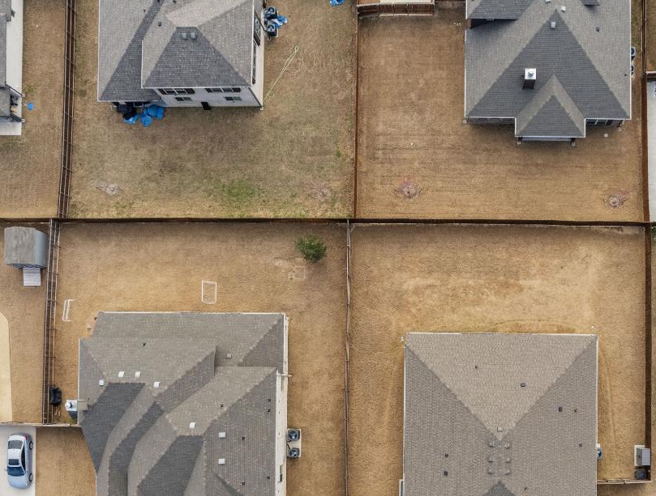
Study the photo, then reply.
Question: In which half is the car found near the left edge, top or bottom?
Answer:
bottom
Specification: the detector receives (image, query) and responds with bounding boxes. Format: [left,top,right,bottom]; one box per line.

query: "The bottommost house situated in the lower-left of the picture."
[64,311,291,496]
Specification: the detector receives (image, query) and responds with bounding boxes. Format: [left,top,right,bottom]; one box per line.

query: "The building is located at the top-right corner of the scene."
[463,0,632,145]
